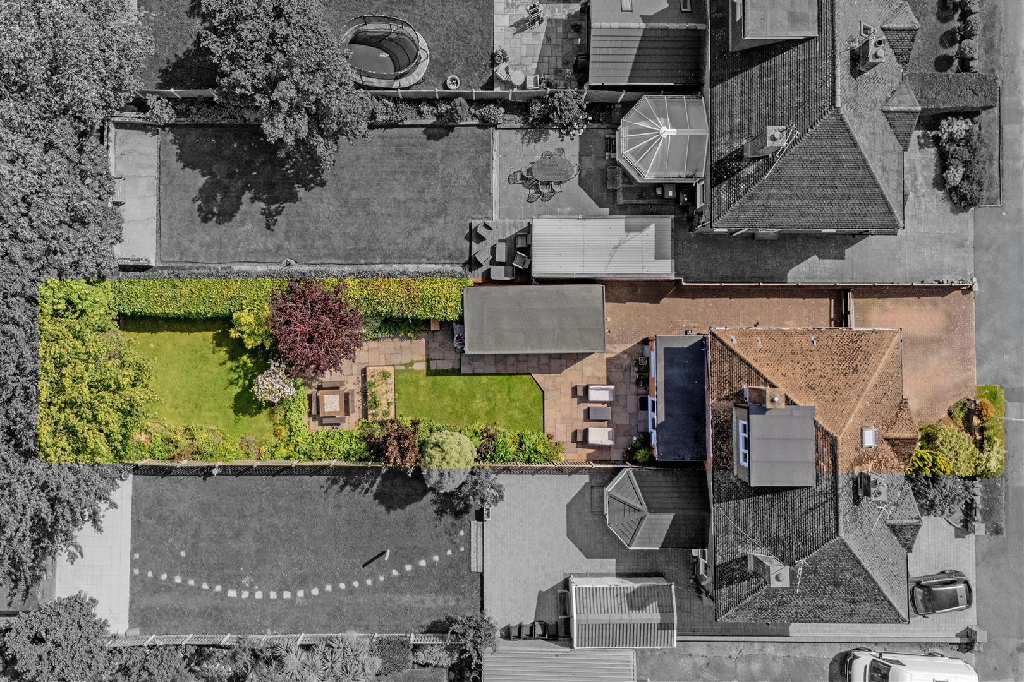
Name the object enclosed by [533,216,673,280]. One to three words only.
building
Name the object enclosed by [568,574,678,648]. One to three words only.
building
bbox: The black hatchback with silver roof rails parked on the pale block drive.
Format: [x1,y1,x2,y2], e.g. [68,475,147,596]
[908,567,975,621]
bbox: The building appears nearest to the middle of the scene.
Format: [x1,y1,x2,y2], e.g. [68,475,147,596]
[464,283,610,354]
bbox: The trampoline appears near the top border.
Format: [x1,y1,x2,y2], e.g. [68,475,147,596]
[339,11,429,89]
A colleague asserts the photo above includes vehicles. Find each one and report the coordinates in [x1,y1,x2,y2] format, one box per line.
[908,567,975,621]
[843,643,970,682]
